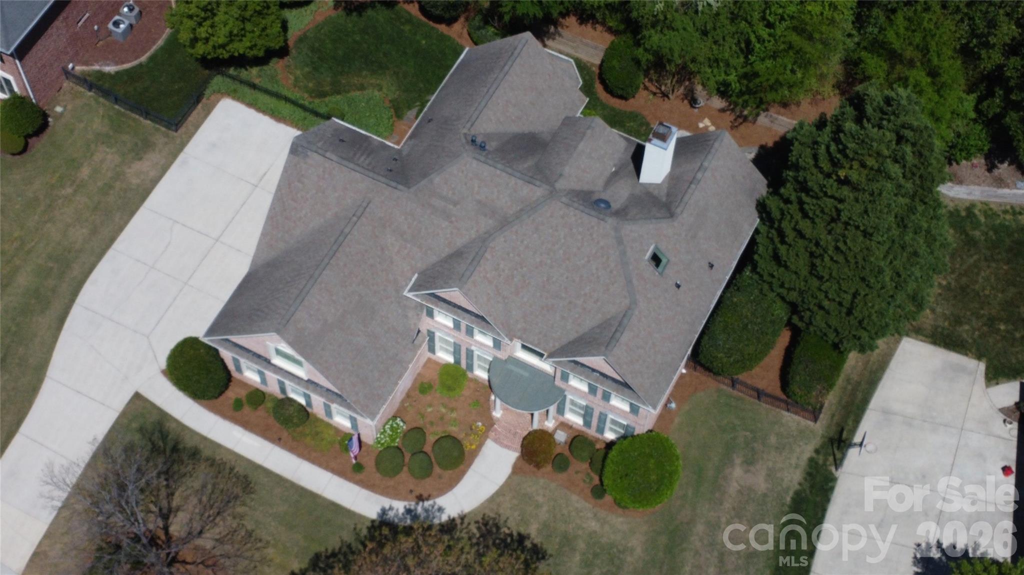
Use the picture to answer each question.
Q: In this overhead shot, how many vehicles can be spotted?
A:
0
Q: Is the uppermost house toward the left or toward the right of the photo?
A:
left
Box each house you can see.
[201,31,774,456]
[0,0,125,103]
